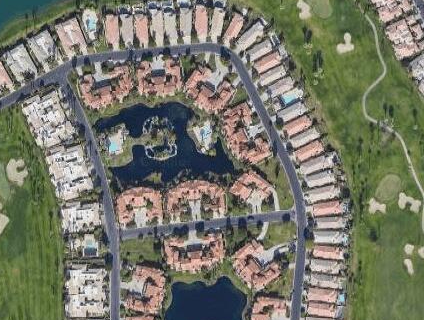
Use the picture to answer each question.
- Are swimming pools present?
Yes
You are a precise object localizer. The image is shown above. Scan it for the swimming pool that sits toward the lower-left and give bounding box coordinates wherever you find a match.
[82,234,98,257]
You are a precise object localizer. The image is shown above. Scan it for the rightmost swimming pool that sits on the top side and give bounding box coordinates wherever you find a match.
[277,90,302,107]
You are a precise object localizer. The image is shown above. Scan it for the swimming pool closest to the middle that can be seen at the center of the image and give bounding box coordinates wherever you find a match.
[195,122,212,150]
